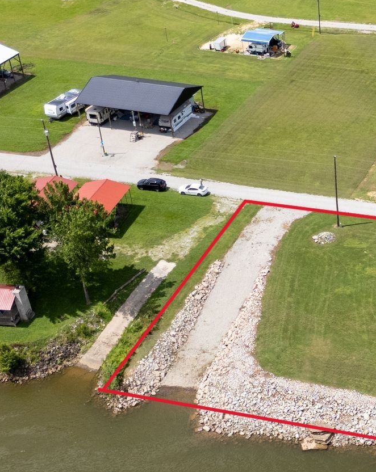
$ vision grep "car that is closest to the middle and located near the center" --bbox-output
[177,180,209,195]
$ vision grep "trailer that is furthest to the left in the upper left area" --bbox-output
[49,83,86,118]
